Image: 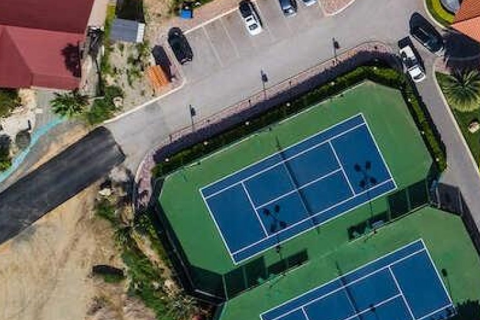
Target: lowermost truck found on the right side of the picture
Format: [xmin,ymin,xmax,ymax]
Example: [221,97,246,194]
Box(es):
[399,43,426,83]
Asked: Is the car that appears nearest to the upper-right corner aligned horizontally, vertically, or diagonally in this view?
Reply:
diagonally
